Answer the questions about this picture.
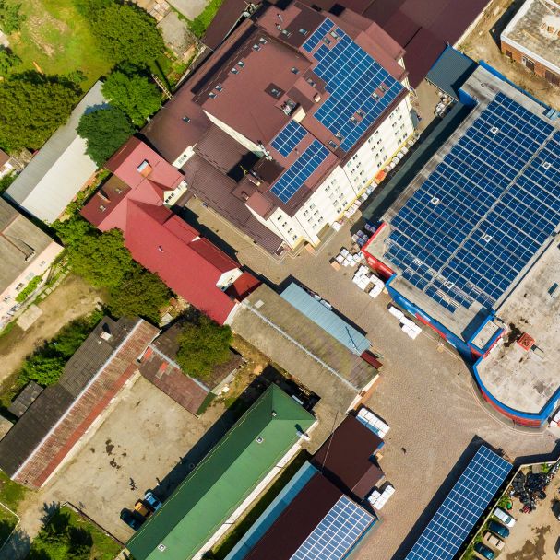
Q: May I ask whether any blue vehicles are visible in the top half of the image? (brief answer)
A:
No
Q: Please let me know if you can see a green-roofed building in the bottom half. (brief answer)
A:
Yes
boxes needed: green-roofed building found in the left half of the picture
[126,384,317,560]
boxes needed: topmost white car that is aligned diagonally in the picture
[492,506,517,529]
